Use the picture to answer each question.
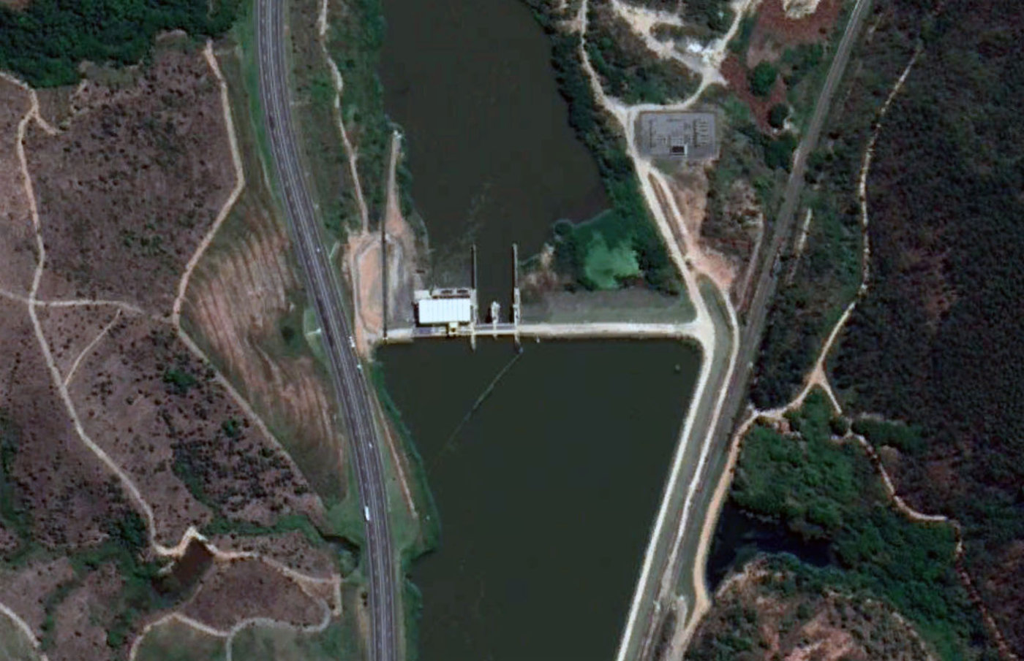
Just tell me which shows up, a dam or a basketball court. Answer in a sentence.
Of the two, only a dam appears.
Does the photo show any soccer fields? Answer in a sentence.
No, the scene contains no soccer field.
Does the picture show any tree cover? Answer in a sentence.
Yes, some tree cover is visible.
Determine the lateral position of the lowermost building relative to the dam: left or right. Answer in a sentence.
The lowermost building is to the left of the dam.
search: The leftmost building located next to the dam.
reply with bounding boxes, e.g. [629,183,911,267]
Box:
[414,289,471,337]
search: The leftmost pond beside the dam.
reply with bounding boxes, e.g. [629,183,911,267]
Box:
[377,333,700,661]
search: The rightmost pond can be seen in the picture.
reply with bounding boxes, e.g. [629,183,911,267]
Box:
[707,504,839,593]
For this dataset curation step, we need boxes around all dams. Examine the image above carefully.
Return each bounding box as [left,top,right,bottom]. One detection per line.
[471,245,701,350]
